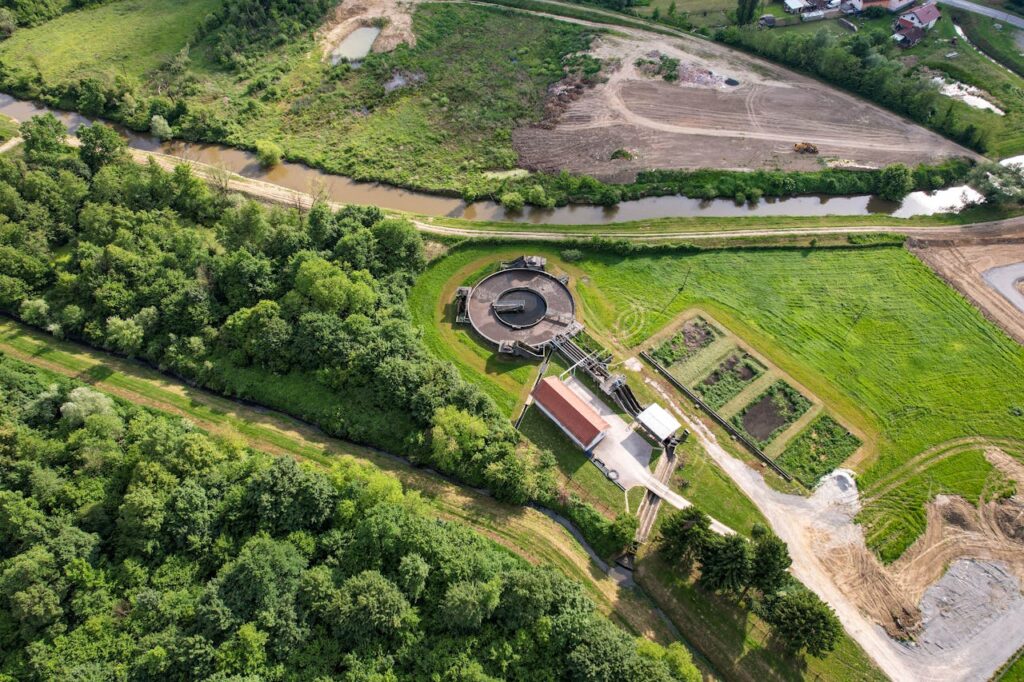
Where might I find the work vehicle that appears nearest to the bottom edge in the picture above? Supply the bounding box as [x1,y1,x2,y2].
[792,141,819,153]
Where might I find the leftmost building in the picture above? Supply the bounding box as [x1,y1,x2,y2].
[530,375,612,452]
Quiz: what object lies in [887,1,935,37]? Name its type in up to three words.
house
